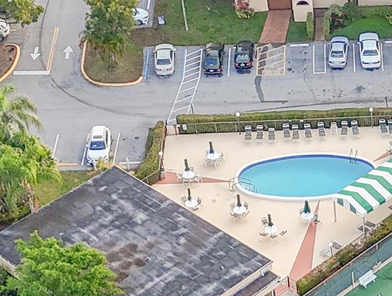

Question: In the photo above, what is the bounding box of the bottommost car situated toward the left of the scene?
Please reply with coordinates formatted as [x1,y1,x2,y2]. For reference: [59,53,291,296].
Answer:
[84,124,112,161]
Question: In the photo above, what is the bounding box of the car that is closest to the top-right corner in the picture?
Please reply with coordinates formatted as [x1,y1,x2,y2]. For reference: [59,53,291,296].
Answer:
[357,36,381,68]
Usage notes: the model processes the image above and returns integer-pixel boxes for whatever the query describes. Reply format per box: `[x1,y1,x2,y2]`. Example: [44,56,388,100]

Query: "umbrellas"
[235,193,243,209]
[184,159,191,174]
[186,187,195,208]
[302,199,311,215]
[209,141,216,156]
[267,214,274,229]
